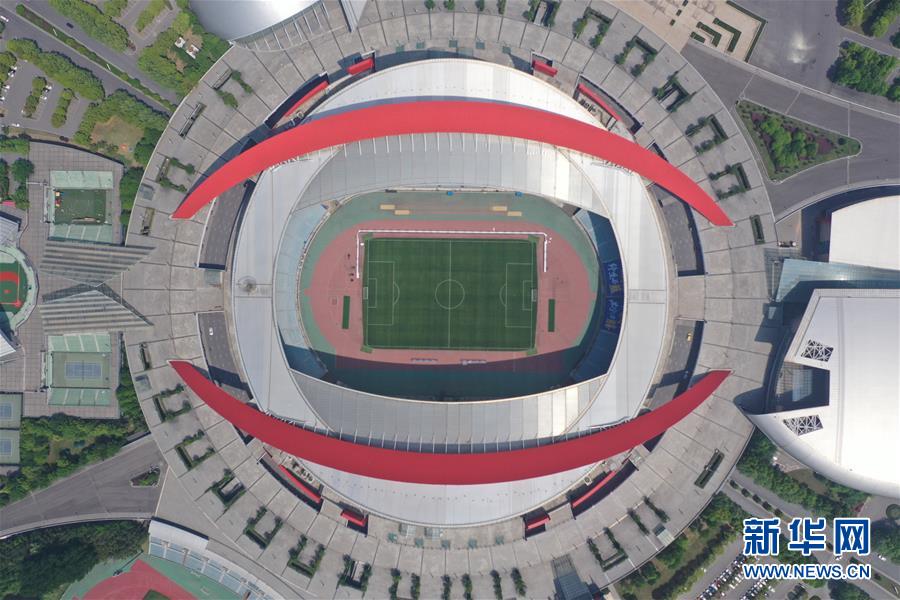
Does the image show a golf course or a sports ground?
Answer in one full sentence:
The area seen from above is a sports ground.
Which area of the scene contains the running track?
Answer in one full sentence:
You can find the running track in the center area of the picture.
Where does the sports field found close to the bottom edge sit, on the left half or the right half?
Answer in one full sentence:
The sports field found close to the bottom edge is on the left side of the image.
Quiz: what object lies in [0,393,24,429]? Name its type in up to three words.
tennis court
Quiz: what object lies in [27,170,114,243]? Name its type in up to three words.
tennis court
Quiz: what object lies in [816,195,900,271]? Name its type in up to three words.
building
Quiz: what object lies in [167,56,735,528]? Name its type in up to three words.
stadium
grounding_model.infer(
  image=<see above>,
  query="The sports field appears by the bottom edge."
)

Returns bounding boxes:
[66,551,238,600]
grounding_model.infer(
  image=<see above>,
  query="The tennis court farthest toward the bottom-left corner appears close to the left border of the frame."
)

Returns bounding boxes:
[0,428,24,465]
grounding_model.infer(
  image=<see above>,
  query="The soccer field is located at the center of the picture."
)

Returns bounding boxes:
[362,237,536,351]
